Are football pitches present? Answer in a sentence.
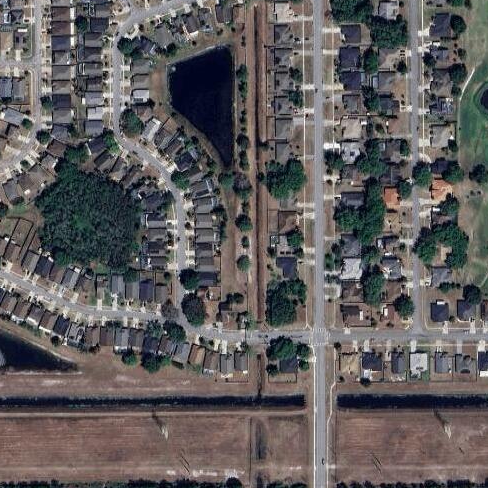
No, there isn't any football pitch down there.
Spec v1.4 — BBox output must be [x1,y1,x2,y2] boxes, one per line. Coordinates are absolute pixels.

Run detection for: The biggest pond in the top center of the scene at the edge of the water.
[166,46,234,164]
